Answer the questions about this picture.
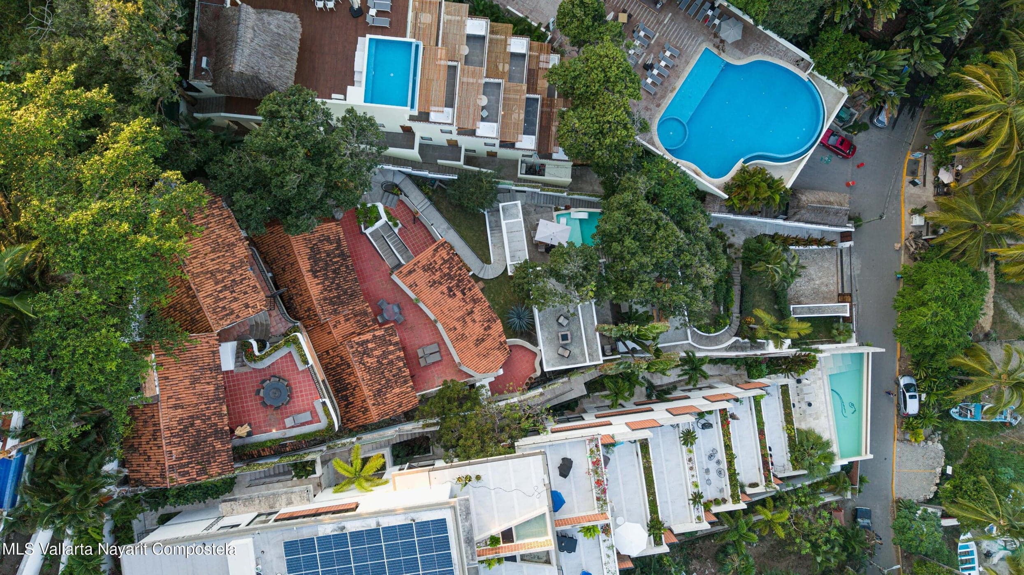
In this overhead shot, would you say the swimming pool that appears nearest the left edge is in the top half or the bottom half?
top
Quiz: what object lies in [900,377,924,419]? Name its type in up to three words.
car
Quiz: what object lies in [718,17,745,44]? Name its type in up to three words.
umbrella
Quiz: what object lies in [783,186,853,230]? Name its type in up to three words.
shed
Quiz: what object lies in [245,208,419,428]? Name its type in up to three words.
house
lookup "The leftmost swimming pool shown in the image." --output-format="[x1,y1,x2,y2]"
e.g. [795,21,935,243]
[363,34,424,128]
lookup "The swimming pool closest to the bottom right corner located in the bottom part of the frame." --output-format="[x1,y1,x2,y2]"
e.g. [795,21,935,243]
[803,342,885,487]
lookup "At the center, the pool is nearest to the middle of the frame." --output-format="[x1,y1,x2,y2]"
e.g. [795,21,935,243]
[552,208,609,260]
